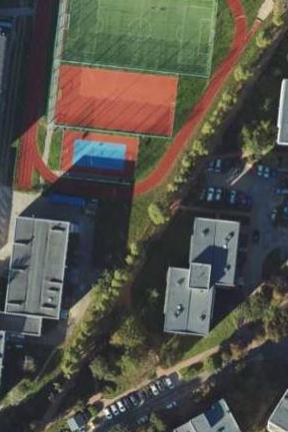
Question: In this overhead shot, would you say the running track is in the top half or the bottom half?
top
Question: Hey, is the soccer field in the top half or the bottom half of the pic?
top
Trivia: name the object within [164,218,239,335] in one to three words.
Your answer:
building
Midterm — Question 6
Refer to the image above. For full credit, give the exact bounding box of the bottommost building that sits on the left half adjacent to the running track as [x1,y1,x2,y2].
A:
[5,216,71,319]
